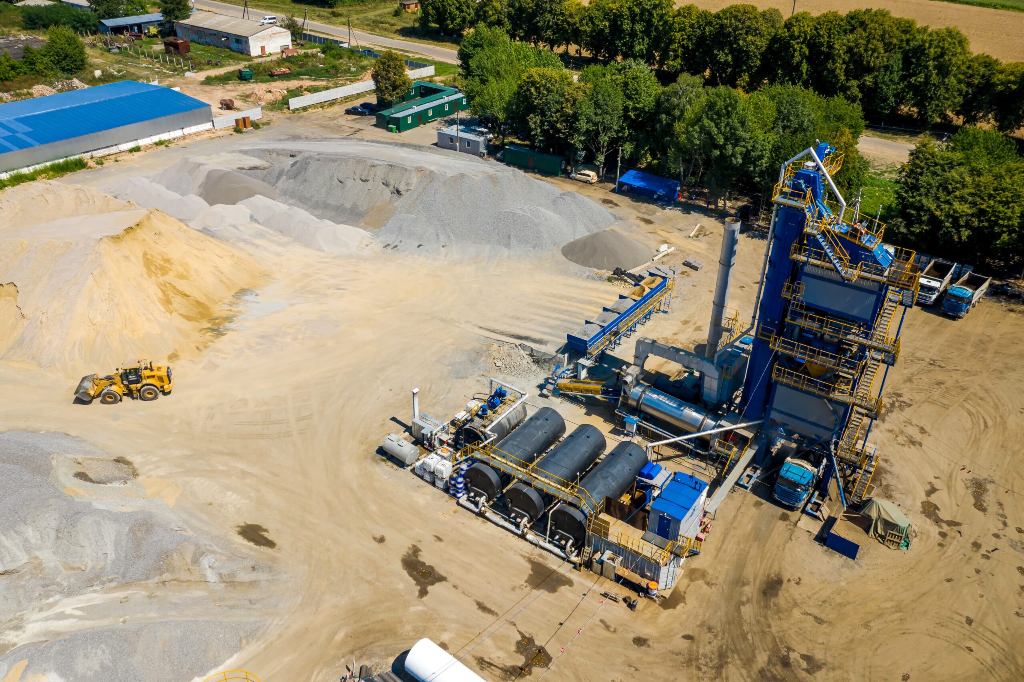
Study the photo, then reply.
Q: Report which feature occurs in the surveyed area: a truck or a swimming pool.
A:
truck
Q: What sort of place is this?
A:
industrial area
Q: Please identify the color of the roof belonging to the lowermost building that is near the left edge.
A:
blue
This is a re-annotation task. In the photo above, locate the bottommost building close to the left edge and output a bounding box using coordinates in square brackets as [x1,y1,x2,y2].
[0,80,214,177]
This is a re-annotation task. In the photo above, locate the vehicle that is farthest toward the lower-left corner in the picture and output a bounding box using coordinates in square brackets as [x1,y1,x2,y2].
[72,356,174,406]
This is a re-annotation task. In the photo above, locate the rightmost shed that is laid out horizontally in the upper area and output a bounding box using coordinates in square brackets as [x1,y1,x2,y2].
[615,168,683,204]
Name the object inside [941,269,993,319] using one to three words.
truck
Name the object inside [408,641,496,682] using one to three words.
storage tank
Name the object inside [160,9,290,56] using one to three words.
barn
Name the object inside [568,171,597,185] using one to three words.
car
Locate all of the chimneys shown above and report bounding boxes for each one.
[708,214,749,363]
